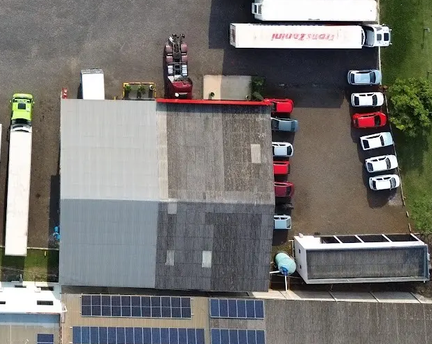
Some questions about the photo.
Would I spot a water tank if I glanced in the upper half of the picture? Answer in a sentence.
No, the scene shows no water tank in the upper half of the picture.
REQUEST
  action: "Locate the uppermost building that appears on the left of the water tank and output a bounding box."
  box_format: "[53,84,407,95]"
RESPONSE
[56,94,275,292]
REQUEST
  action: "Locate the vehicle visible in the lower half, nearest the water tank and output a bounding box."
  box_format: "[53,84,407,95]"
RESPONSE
[273,212,291,229]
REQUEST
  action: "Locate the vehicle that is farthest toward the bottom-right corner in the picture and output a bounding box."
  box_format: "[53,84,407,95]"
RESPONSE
[367,173,401,191]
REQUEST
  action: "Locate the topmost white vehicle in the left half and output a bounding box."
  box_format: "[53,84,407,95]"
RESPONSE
[81,68,103,97]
